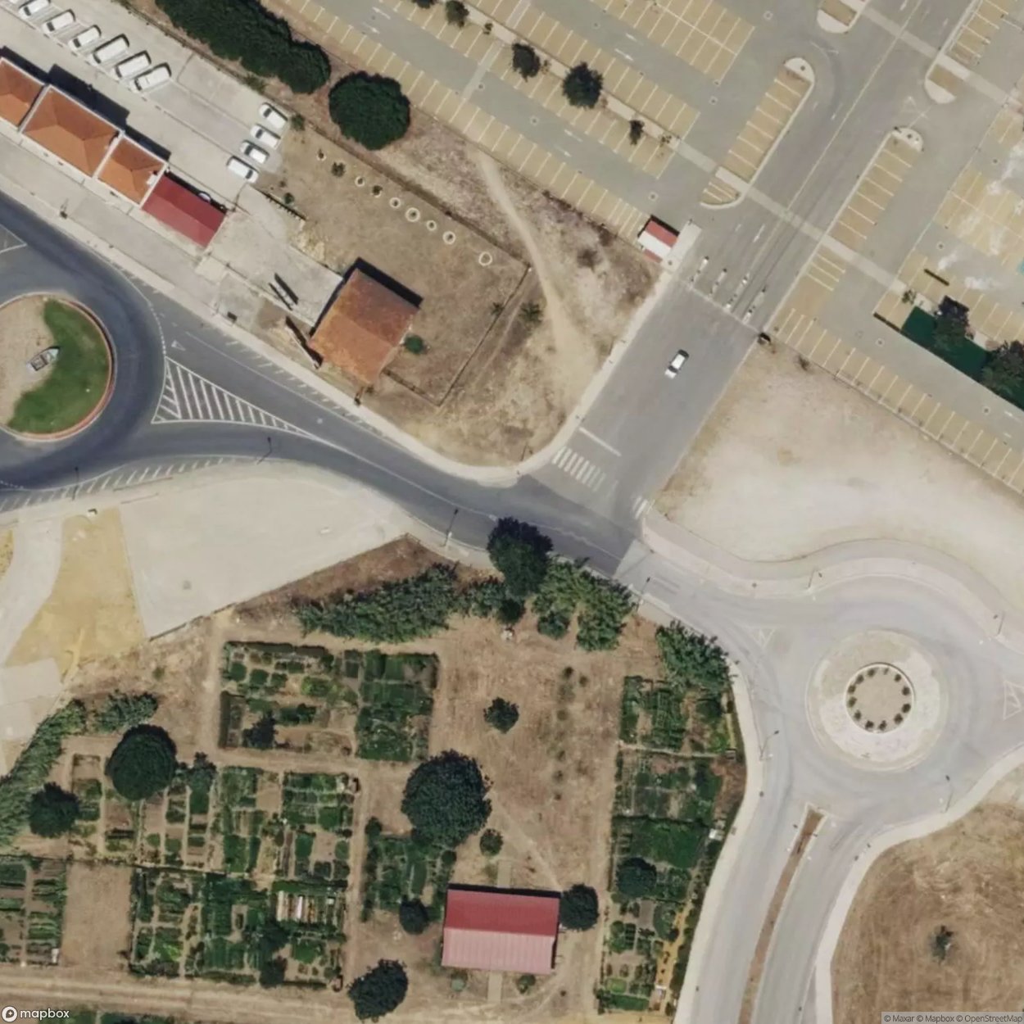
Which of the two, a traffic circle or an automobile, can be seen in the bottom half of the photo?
traffic circle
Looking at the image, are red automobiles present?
No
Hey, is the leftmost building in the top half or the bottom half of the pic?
top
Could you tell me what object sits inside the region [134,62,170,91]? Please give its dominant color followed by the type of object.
white van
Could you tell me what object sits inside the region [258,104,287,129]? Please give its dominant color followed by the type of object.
white car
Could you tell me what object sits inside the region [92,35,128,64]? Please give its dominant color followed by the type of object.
white van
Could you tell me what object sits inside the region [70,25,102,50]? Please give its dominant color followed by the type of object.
white car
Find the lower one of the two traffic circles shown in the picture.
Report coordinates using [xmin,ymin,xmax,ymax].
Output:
[756,577,1001,822]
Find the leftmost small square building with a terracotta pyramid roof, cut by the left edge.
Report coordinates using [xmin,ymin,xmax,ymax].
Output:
[0,55,43,127]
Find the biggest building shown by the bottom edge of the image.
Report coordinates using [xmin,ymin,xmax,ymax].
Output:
[441,890,560,975]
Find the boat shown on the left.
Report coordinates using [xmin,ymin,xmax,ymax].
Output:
[26,350,58,371]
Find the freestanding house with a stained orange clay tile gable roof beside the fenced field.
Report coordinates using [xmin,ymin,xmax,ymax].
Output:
[308,268,420,385]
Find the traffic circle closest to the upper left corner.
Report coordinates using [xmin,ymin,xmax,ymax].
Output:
[0,243,165,491]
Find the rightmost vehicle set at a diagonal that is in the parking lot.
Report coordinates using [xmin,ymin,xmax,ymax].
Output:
[665,350,688,379]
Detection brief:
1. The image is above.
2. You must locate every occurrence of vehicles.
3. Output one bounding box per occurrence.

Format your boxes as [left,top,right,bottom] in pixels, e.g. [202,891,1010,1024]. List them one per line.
[116,50,152,79]
[258,104,287,129]
[44,9,75,35]
[70,25,102,50]
[134,62,170,91]
[227,156,257,182]
[249,124,278,148]
[92,35,128,64]
[21,0,52,20]
[665,350,688,379]
[240,140,268,165]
